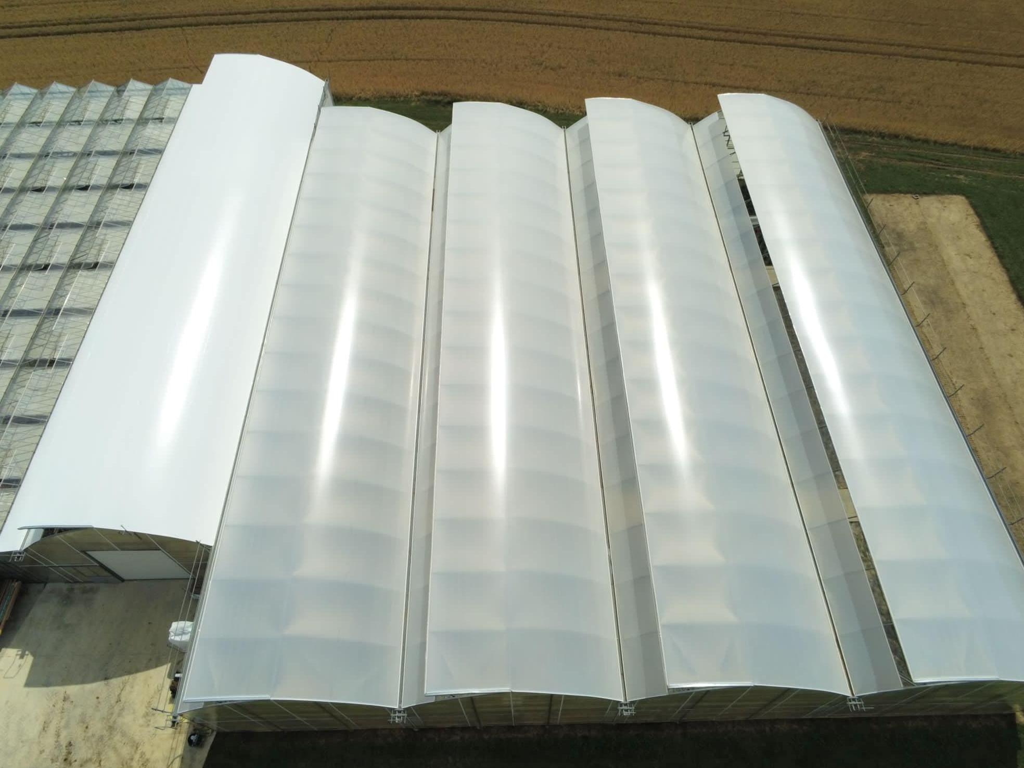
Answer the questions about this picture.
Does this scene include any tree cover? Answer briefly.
No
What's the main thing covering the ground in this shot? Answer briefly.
buildings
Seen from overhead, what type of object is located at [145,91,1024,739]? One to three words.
greenhouse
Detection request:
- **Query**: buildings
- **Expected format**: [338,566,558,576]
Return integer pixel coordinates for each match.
[0,78,193,585]
[145,91,1024,739]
